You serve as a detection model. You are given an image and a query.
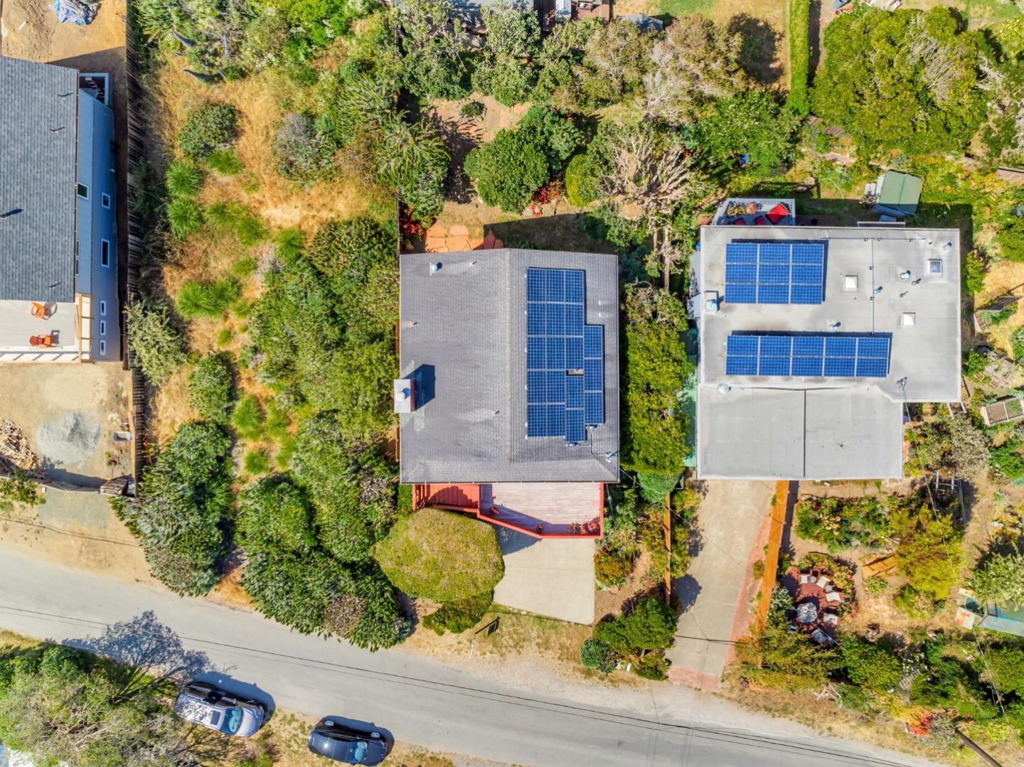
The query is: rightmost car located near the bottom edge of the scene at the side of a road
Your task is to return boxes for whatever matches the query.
[305,720,389,767]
